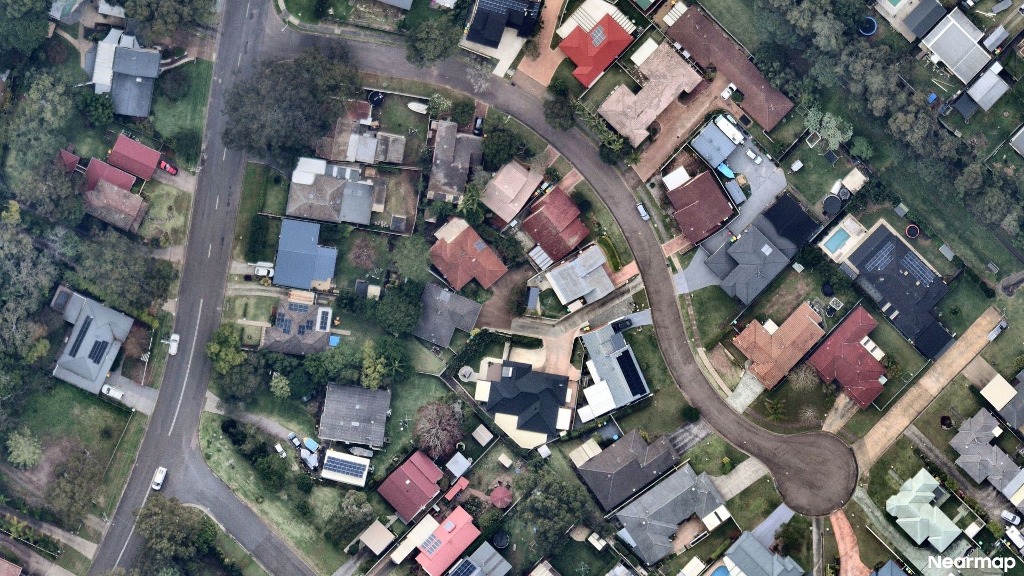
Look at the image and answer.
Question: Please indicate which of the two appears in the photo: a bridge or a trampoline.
trampoline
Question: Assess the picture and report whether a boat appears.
Yes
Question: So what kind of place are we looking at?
residential area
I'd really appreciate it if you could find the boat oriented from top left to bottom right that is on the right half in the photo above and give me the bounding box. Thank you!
[716,164,737,180]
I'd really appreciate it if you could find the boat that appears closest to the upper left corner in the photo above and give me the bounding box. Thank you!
[405,102,428,114]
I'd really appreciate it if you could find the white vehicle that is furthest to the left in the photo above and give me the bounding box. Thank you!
[101,385,124,400]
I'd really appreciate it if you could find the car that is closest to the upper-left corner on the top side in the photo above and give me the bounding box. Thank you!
[159,161,177,175]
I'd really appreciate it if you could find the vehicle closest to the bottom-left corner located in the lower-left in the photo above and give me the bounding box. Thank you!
[152,467,166,490]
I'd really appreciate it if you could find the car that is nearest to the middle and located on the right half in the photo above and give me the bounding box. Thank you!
[614,319,633,331]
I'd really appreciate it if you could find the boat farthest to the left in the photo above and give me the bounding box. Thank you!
[302,438,319,454]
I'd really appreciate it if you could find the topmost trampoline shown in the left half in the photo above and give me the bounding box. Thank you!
[368,90,384,106]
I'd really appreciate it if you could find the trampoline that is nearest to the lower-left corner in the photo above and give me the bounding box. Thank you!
[493,532,509,548]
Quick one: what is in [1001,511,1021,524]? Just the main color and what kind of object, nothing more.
white vehicle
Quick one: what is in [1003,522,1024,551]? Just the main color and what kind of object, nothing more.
white camper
